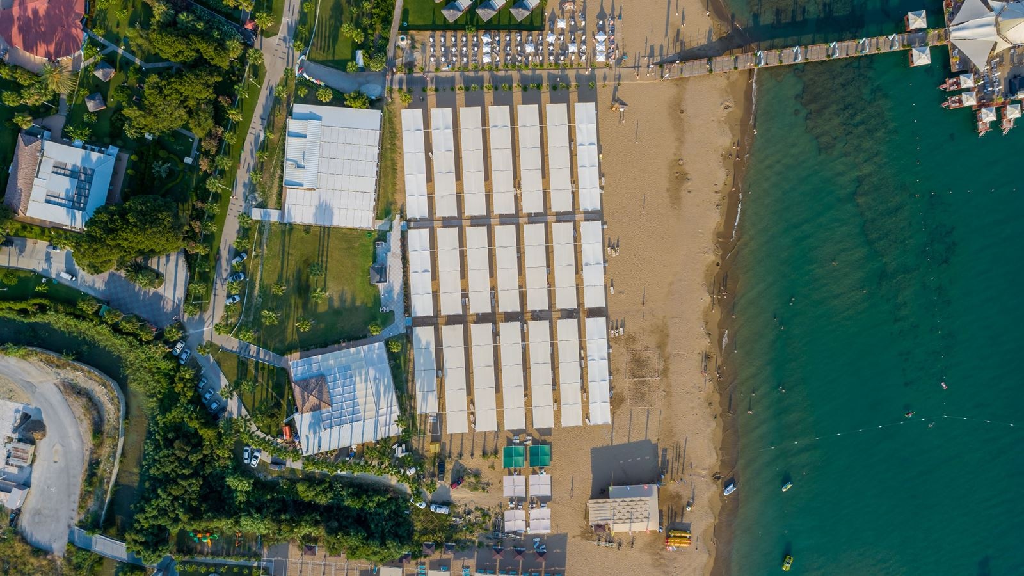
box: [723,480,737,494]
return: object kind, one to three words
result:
boat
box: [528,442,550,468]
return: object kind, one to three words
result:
tent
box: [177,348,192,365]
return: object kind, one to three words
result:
car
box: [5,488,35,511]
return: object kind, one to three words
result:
shed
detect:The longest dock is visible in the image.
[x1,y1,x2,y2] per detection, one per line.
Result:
[655,28,948,80]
